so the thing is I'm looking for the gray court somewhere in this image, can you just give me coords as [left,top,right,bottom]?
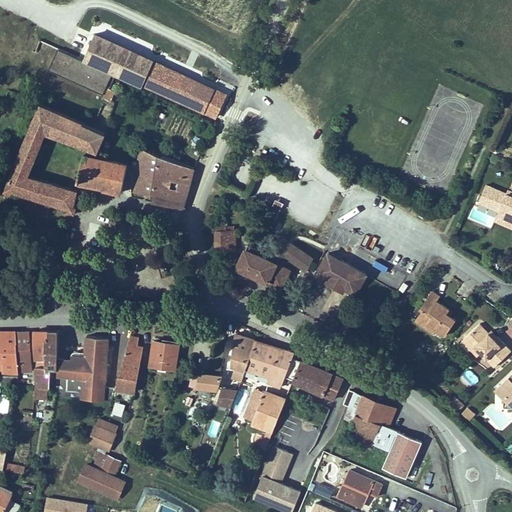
[404,84,484,187]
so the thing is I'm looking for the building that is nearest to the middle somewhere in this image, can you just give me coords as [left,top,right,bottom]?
[236,249,277,289]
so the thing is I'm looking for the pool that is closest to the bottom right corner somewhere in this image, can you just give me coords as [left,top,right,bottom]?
[482,392,512,430]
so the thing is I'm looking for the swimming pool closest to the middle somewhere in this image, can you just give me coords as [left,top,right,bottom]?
[233,389,248,414]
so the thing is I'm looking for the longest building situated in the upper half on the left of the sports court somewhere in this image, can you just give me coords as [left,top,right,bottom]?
[82,34,227,120]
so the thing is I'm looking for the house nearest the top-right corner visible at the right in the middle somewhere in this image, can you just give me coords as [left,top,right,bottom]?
[478,184,512,231]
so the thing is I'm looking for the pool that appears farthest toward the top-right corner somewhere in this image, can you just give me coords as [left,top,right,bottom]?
[468,206,494,229]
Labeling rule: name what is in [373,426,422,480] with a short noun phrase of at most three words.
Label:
building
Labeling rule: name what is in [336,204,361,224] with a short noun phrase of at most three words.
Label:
vehicle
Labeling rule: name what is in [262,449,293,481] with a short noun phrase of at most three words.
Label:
house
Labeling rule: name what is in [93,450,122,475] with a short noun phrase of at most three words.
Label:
barn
